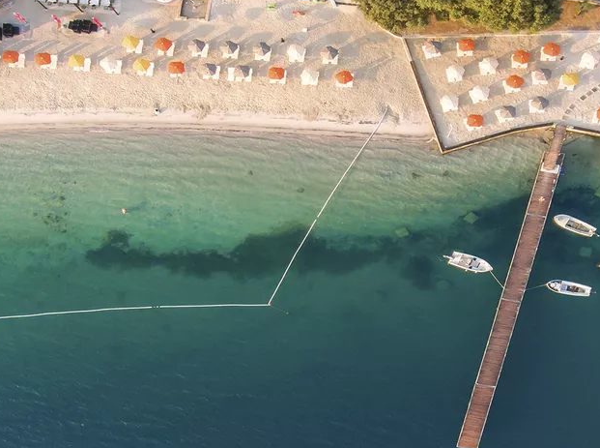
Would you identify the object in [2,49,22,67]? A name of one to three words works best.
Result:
umbrella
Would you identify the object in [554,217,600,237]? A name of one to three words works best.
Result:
boat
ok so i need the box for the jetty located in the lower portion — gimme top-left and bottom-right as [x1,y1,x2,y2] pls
[458,142,567,448]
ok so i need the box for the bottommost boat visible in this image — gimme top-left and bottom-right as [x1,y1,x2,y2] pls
[547,280,600,297]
